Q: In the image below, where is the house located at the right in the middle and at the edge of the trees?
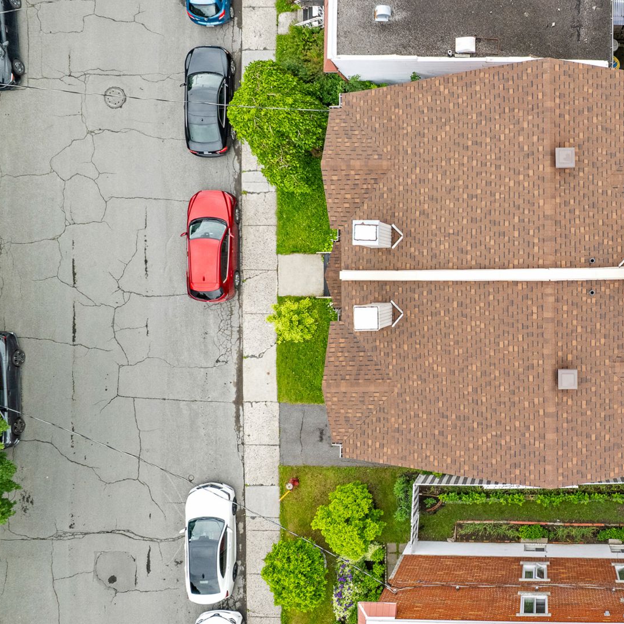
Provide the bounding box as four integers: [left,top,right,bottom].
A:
[314,57,624,491]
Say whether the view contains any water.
No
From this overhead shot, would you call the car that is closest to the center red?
Yes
